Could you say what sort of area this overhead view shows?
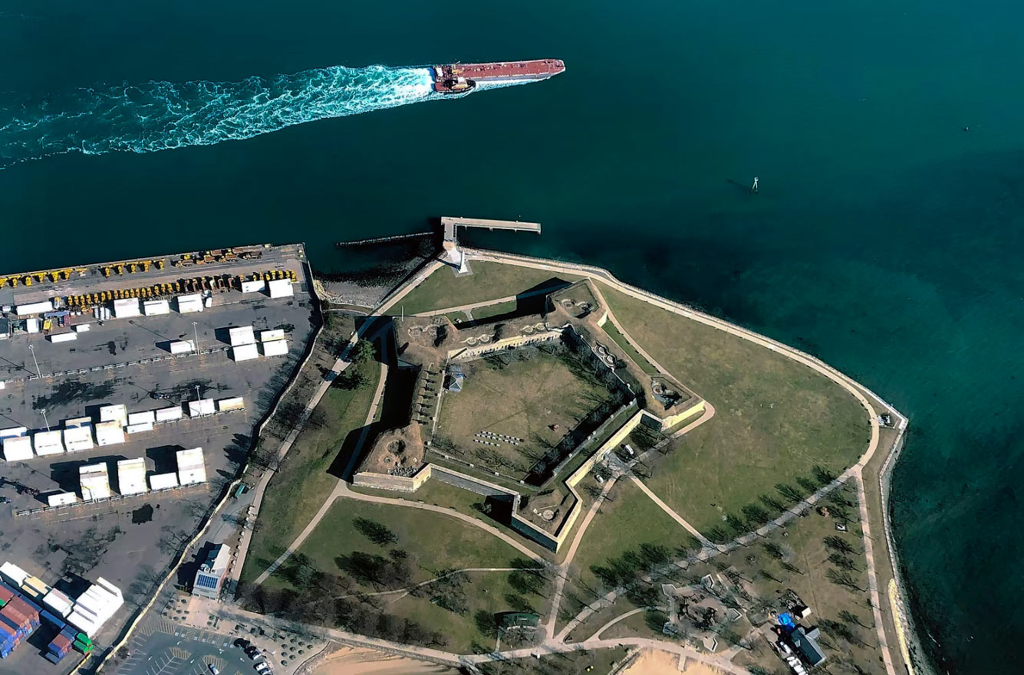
port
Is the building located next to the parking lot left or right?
left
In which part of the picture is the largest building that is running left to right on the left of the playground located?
bottom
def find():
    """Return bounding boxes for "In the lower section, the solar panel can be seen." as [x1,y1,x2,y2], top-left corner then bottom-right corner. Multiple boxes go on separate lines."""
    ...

[194,572,220,592]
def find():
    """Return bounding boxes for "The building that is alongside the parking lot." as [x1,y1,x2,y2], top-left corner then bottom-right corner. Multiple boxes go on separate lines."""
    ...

[191,543,232,606]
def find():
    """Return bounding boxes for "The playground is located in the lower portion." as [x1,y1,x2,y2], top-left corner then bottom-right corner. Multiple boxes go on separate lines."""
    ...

[661,573,743,651]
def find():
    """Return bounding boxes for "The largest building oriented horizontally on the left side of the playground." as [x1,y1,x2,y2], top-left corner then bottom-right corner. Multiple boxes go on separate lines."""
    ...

[495,612,540,632]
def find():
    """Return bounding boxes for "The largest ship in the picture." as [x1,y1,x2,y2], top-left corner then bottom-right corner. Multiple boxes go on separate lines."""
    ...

[439,55,559,81]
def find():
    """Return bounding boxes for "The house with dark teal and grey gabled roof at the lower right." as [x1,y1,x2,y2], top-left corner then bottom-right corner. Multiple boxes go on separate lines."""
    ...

[791,627,826,669]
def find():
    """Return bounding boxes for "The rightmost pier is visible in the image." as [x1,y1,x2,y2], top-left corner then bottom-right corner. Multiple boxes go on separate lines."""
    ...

[441,215,541,240]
